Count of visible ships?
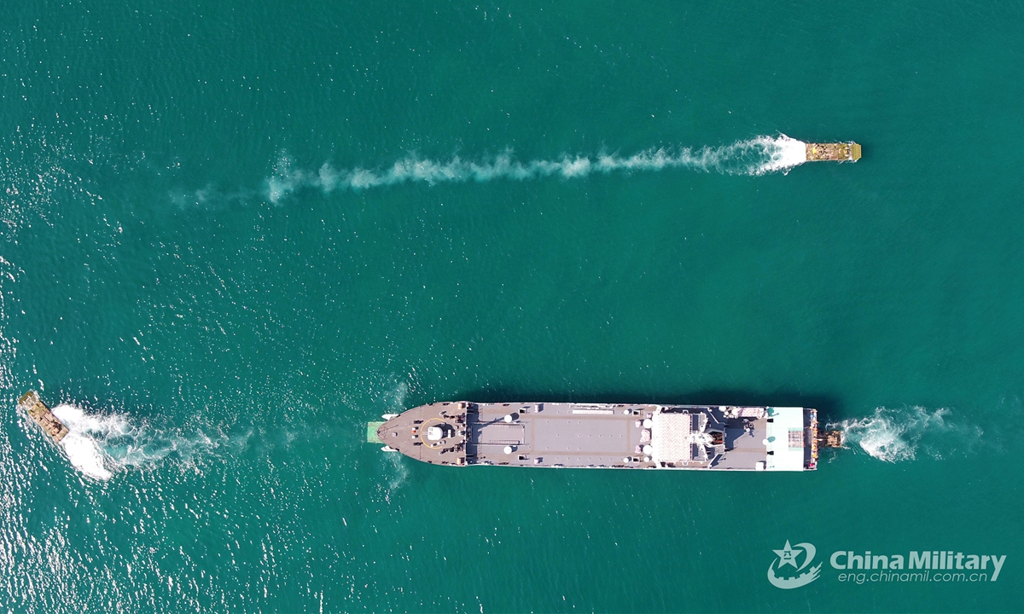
1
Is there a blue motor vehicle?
No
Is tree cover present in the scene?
No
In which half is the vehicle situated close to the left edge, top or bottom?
bottom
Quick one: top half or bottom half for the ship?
bottom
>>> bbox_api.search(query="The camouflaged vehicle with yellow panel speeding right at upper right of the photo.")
[804,144,860,162]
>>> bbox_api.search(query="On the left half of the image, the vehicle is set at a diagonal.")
[20,392,69,441]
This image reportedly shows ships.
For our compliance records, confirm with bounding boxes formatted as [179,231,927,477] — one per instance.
[367,401,828,471]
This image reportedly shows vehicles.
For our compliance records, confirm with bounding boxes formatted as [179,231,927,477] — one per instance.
[20,392,69,441]
[804,144,860,162]
[821,429,842,447]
